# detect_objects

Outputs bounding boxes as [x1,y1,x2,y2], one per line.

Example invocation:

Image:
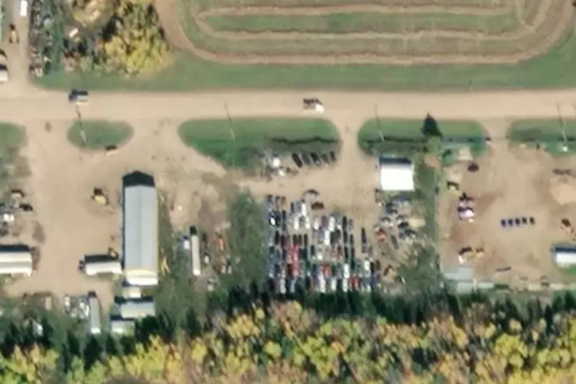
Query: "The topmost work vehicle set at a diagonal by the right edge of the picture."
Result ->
[559,216,576,237]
